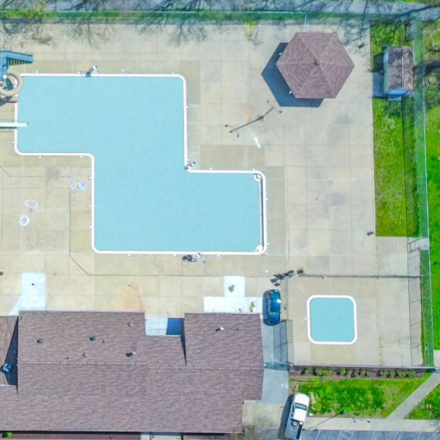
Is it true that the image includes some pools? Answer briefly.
Yes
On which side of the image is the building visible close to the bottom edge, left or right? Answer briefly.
left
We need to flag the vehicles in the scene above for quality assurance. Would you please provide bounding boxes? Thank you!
[263,289,281,326]
[283,392,308,440]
